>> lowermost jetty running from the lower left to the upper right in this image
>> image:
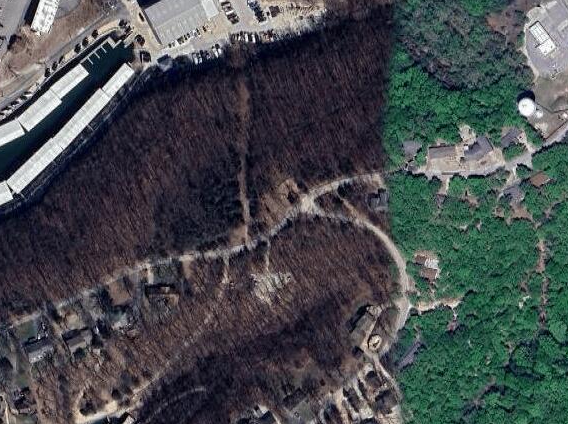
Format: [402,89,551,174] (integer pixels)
[7,137,63,199]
